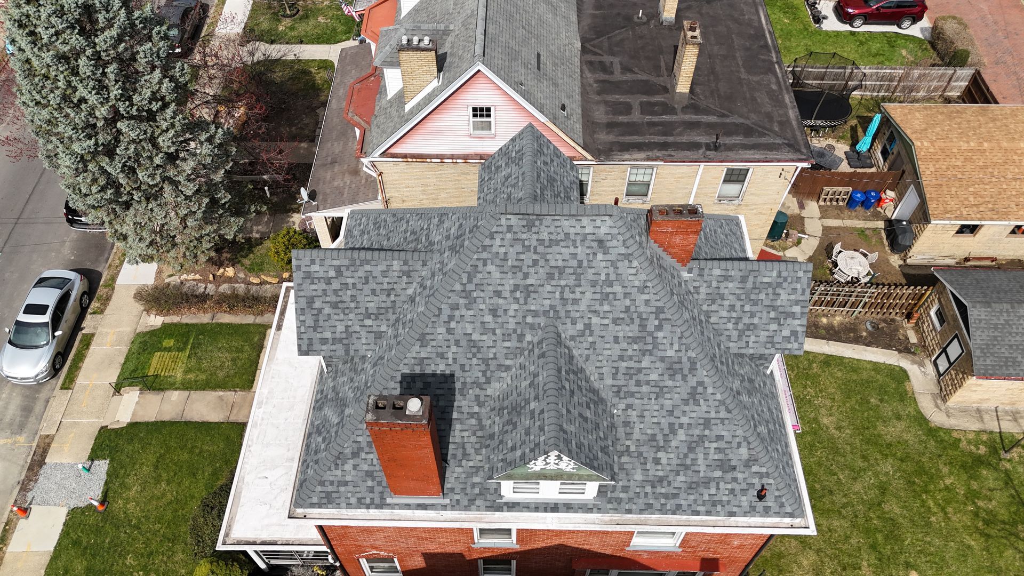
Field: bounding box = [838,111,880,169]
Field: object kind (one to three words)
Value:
umbrella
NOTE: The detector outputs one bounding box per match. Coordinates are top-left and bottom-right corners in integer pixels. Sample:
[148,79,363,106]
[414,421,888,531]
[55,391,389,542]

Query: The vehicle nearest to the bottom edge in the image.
[4,271,92,386]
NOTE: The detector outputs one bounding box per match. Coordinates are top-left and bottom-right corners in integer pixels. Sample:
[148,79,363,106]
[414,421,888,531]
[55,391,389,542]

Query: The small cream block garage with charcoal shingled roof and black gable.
[910,266,1024,405]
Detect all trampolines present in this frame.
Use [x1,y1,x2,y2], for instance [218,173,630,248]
[780,51,871,135]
